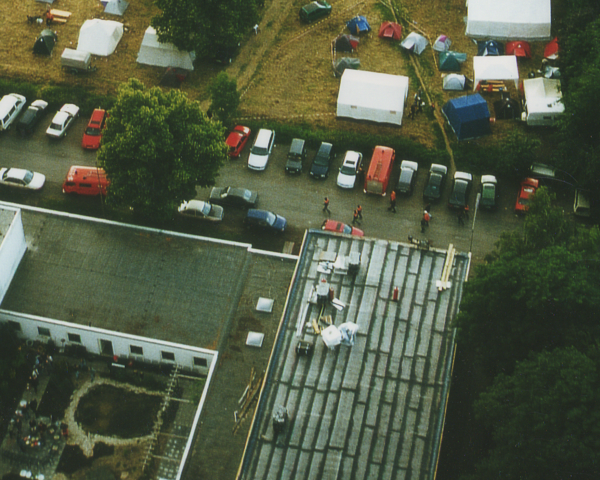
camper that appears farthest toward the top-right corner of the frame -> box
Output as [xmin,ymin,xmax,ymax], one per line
[521,89,579,124]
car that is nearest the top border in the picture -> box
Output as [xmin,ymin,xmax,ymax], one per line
[294,1,336,24]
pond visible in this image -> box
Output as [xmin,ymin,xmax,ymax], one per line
[64,372,174,449]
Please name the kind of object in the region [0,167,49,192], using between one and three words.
car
